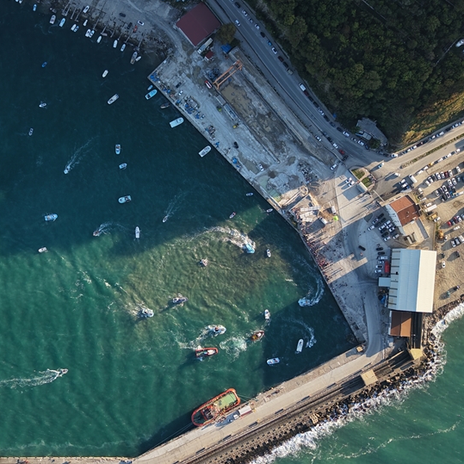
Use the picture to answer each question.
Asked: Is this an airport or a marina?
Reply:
marina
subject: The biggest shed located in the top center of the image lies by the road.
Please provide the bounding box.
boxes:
[175,2,219,49]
